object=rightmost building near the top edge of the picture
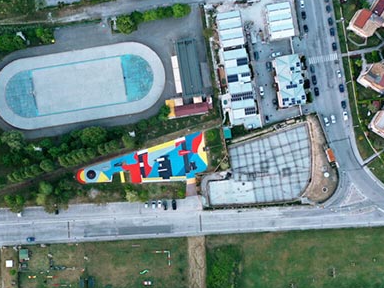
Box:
[345,0,384,39]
